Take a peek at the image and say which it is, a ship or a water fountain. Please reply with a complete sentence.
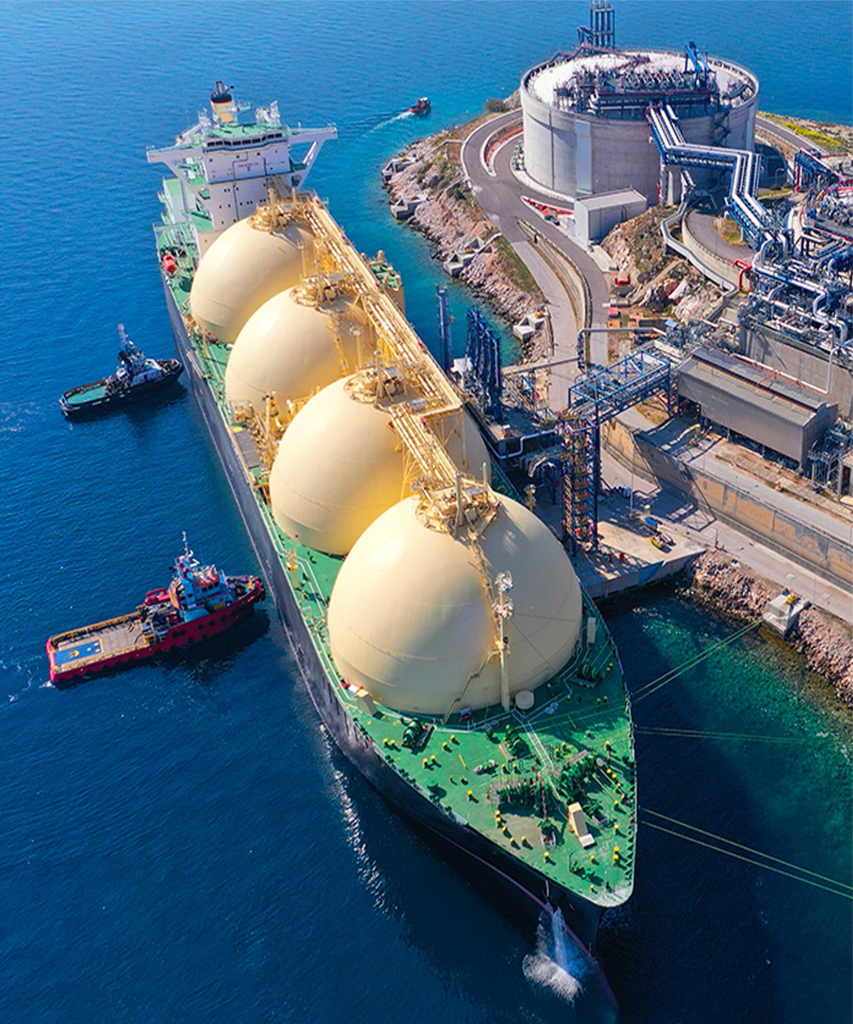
This aerial view contains a ship.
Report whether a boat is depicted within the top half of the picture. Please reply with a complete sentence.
Yes, a boat shows up within the top half of the picture.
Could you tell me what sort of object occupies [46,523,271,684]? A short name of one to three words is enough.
boat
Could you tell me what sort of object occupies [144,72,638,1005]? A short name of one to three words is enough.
ship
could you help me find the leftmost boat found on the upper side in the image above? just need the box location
[60,322,187,420]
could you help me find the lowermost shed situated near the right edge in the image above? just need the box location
[676,348,844,465]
